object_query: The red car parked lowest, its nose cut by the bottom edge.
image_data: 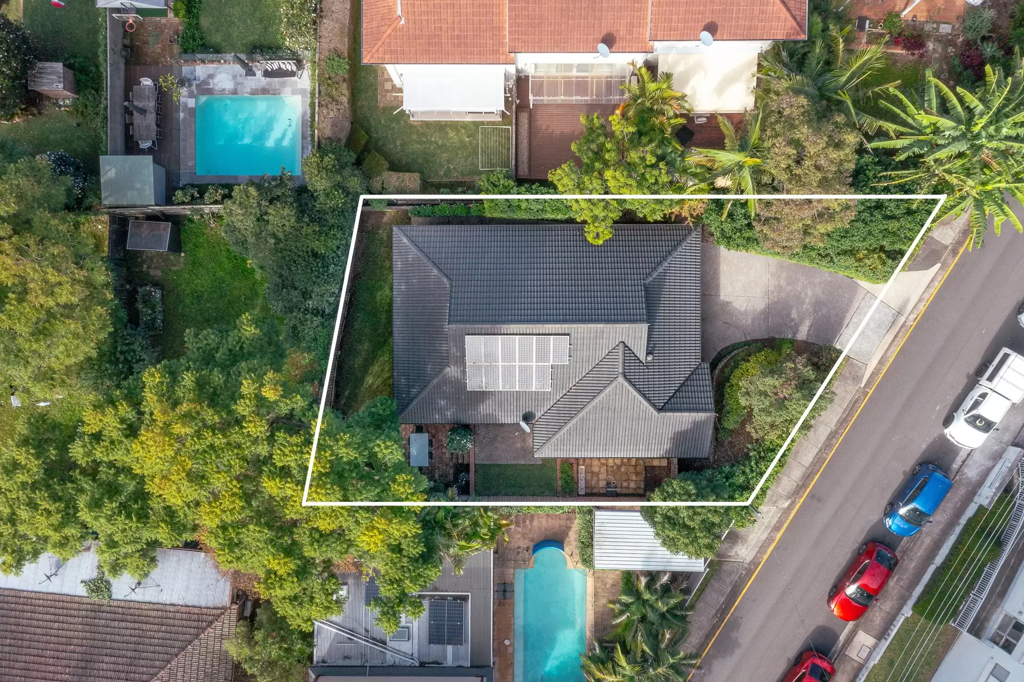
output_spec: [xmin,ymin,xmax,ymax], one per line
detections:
[785,652,835,682]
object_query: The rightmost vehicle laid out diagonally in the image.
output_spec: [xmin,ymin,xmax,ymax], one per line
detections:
[949,343,1024,446]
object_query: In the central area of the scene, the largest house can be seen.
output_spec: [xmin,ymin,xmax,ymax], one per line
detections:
[391,223,717,460]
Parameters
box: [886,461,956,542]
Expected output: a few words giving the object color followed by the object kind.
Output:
blue car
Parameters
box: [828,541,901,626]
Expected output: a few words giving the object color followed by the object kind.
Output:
red car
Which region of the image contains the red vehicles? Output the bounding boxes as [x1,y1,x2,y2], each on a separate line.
[785,652,835,682]
[828,541,901,626]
